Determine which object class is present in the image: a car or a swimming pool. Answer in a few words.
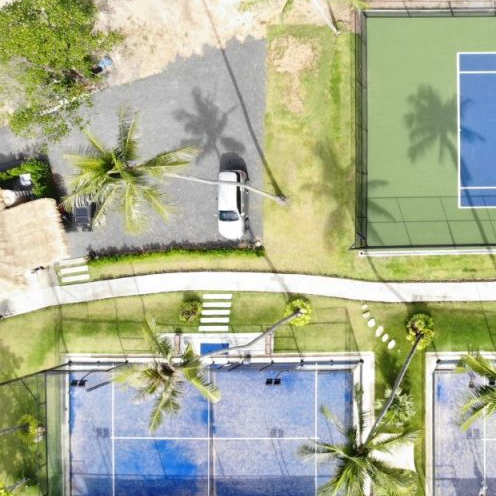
car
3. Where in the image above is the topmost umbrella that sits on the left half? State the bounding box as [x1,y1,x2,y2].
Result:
[0,187,26,207]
